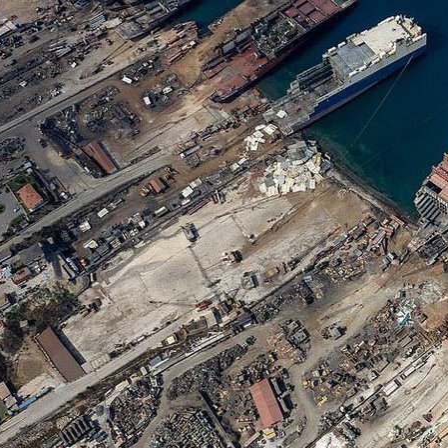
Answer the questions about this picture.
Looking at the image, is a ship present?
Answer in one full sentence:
Yes, the image includes a ship.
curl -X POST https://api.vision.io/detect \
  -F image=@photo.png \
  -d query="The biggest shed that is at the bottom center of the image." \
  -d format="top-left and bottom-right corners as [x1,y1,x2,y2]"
[250,381,283,427]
